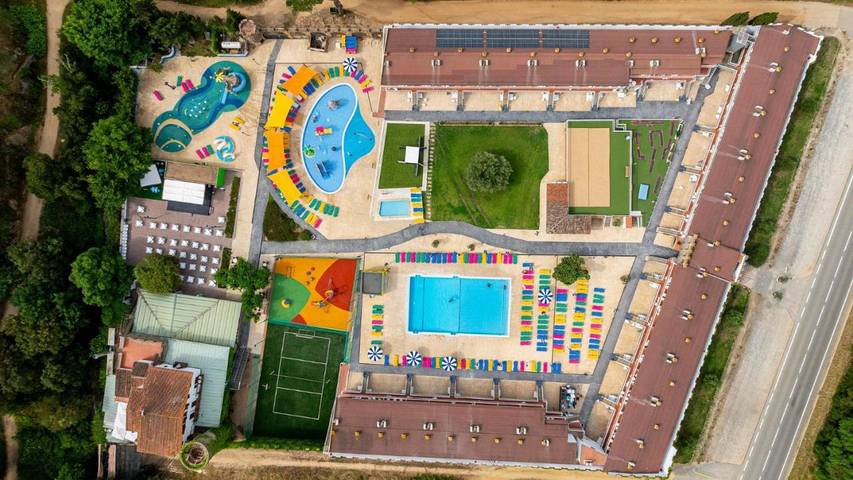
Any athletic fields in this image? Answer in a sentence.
Yes, there's an athletic field down there.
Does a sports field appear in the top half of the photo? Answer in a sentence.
No, the scene shows no sports field in the top half of the photo.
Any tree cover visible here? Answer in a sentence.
Yes, there is tree cover in the image.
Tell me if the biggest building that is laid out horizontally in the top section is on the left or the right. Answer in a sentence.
You can find the biggest building that is laid out horizontally in the top section on the right side of the picture.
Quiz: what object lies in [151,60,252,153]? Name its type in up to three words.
swimming pool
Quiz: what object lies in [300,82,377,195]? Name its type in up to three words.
swimming pool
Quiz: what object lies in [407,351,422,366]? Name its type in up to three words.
umbrella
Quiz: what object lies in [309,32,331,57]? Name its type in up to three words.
shed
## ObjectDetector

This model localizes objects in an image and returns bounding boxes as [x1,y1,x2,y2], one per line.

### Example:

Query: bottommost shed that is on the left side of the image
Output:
[116,444,149,480]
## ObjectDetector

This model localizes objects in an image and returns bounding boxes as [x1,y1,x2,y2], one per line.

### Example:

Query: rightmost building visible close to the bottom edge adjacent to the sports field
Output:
[327,390,578,468]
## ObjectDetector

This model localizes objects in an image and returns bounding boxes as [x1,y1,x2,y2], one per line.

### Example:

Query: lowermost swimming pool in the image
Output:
[406,274,512,338]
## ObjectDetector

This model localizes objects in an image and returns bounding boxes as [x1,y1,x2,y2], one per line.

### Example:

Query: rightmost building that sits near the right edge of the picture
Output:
[600,22,826,478]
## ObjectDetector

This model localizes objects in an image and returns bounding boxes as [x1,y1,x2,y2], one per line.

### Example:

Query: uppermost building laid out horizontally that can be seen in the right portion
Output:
[380,24,734,93]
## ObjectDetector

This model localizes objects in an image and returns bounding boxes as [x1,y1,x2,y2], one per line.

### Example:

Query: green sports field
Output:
[253,322,347,441]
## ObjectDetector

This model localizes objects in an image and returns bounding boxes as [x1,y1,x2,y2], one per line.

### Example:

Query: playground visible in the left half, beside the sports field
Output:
[269,258,357,331]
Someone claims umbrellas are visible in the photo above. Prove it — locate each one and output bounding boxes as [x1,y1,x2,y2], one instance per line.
[441,356,456,371]
[368,346,382,361]
[538,288,552,303]
[407,351,422,366]
[343,58,358,72]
